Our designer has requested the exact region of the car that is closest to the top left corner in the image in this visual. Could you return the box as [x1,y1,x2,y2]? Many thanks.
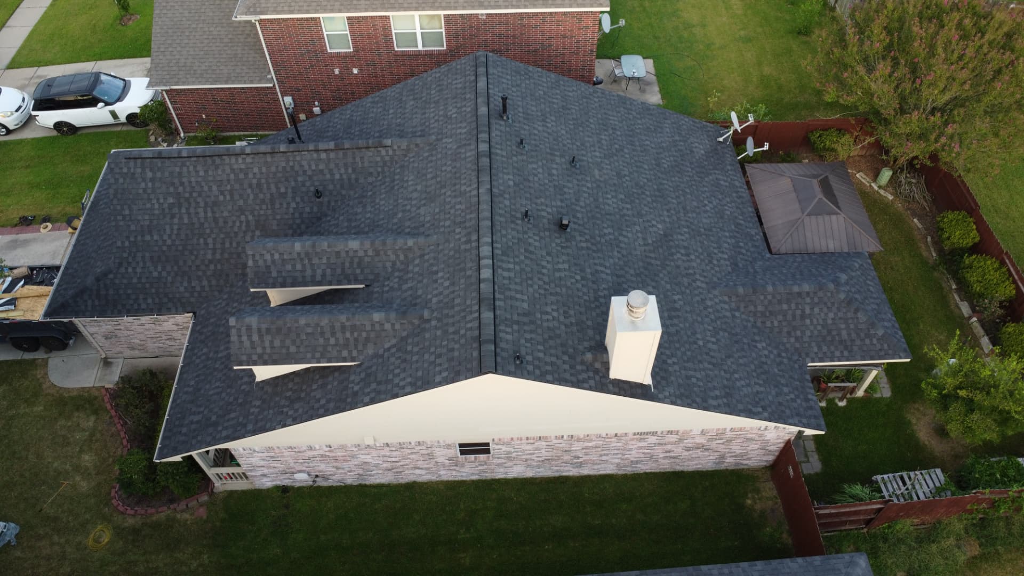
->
[0,76,38,125]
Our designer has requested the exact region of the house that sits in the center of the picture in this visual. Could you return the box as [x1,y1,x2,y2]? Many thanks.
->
[40,52,915,491]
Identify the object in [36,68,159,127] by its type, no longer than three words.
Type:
car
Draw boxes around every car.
[0,76,38,125]
[36,68,159,127]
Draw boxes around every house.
[40,52,915,491]
[582,551,869,576]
